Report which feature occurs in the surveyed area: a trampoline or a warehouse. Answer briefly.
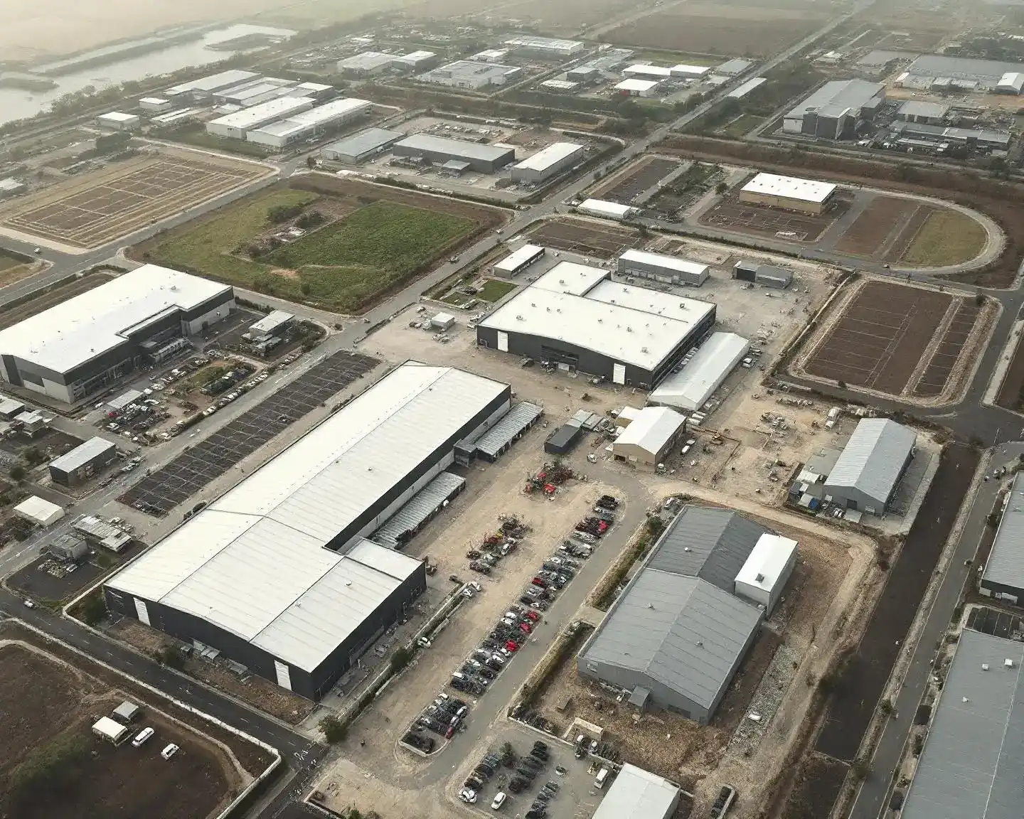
warehouse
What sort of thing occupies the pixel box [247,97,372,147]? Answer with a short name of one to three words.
building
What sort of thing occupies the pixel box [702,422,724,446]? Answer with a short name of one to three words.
work vehicle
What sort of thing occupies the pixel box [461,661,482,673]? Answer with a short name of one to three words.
vehicle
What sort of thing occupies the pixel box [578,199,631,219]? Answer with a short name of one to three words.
shed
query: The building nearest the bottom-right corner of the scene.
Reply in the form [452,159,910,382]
[896,627,1024,819]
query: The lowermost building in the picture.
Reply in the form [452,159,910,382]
[587,762,681,819]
